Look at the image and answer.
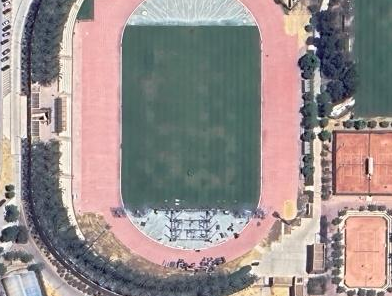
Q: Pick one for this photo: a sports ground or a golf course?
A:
sports ground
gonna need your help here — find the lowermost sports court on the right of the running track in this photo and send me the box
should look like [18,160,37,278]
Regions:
[339,210,392,290]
